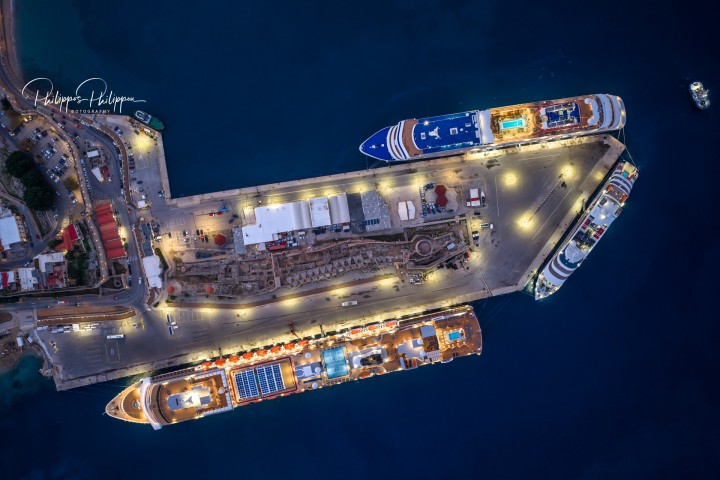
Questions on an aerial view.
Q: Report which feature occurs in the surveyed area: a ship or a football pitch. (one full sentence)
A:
Of the two, only a ship appears.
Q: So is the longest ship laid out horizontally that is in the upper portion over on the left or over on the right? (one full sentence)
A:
The longest ship laid out horizontally that is in the upper portion appears in the right half of the scene.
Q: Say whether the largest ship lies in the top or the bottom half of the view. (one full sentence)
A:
You can find the largest ship in the bottom half.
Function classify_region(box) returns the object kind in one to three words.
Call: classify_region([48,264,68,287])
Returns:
house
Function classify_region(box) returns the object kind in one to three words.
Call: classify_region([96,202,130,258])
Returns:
building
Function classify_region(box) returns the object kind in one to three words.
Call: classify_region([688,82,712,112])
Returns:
boat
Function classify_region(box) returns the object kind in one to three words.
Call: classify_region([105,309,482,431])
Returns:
ship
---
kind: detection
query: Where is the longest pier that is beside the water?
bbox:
[34,134,625,391]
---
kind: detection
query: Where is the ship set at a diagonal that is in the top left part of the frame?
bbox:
[131,105,165,129]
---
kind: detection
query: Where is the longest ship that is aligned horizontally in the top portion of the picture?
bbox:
[359,93,625,157]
